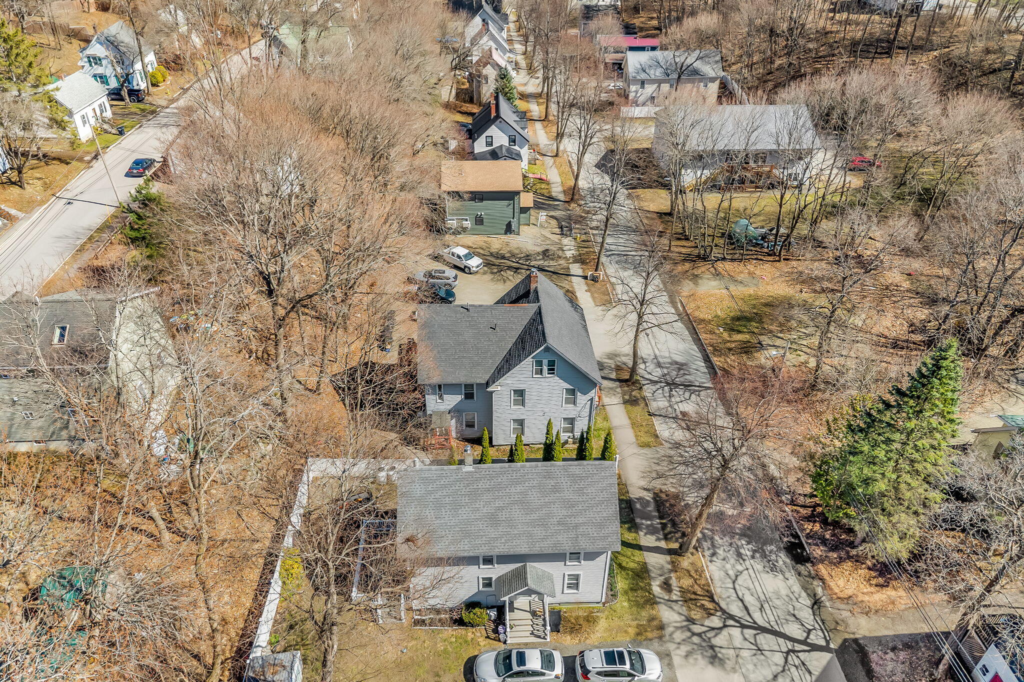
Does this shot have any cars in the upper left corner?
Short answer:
Yes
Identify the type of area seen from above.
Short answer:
residential area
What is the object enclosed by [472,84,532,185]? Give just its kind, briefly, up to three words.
house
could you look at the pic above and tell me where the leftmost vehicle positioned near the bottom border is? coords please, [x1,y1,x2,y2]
[474,642,563,682]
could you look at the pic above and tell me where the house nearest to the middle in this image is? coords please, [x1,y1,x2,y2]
[412,259,604,455]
